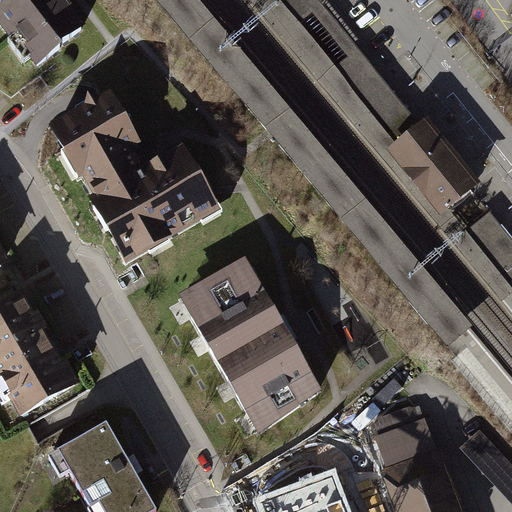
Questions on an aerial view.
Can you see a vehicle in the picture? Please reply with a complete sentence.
Yes, the photo shows a vehicle.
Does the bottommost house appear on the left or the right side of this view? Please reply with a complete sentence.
The bottommost house sits on the right side.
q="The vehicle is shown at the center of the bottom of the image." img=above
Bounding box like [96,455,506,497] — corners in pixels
[198,452,212,470]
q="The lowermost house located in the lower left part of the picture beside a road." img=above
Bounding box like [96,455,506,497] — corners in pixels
[48,420,156,512]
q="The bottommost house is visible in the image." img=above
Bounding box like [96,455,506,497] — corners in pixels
[388,476,452,512]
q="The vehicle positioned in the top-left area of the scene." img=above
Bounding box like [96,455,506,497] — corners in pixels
[1,106,22,123]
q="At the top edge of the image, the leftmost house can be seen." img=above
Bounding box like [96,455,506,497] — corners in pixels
[0,0,82,70]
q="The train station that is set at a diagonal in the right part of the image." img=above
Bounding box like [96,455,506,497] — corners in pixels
[156,0,512,430]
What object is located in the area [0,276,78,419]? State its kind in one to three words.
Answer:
house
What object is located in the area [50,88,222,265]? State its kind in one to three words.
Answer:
house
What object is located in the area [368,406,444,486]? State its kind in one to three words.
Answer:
building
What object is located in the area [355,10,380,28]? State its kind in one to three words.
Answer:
car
